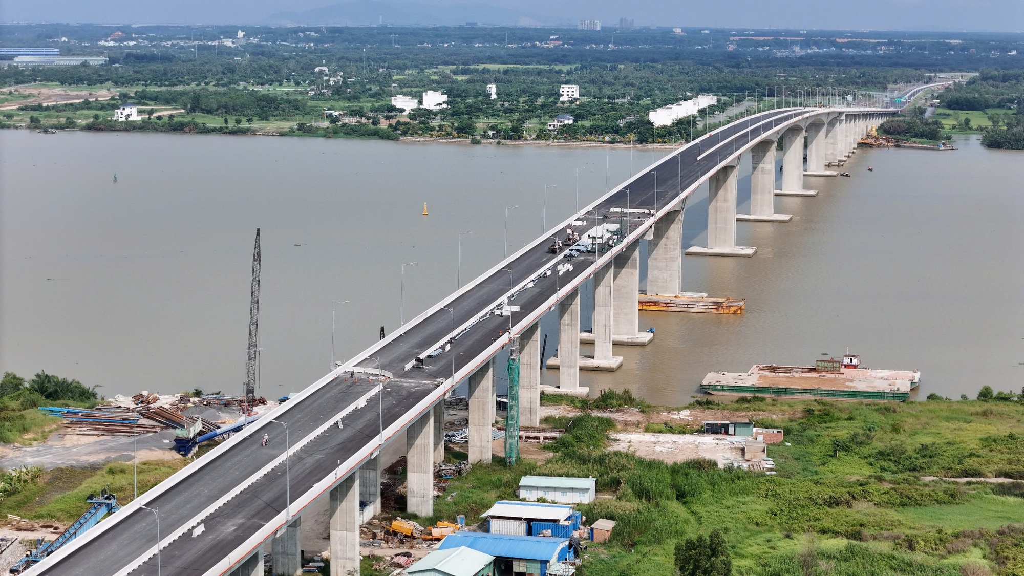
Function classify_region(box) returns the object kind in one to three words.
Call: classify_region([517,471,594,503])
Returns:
shed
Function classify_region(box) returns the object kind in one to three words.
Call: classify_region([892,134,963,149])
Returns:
ship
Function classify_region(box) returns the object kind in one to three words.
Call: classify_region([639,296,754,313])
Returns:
ship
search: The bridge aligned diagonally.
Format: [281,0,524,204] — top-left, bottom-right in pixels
[17,107,900,576]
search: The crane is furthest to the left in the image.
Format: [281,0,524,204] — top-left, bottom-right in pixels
[238,226,261,417]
